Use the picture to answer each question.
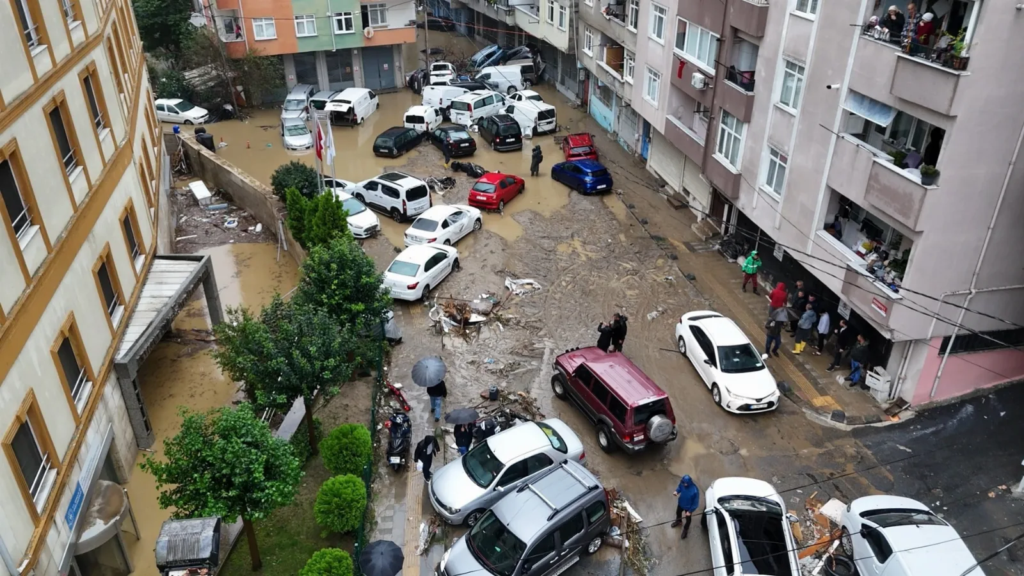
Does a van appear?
Yes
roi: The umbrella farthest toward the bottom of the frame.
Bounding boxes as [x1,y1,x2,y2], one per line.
[350,541,412,576]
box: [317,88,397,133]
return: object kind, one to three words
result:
van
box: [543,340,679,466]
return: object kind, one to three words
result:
car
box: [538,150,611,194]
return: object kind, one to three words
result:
car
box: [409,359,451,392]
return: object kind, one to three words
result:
umbrella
